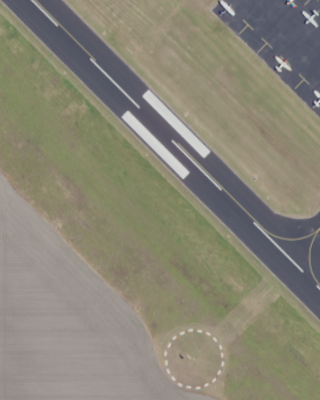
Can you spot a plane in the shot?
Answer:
Yes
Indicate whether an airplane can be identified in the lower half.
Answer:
No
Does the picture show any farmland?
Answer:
Yes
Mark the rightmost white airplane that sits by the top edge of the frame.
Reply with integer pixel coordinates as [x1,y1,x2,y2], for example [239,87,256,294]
[302,10,320,27]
